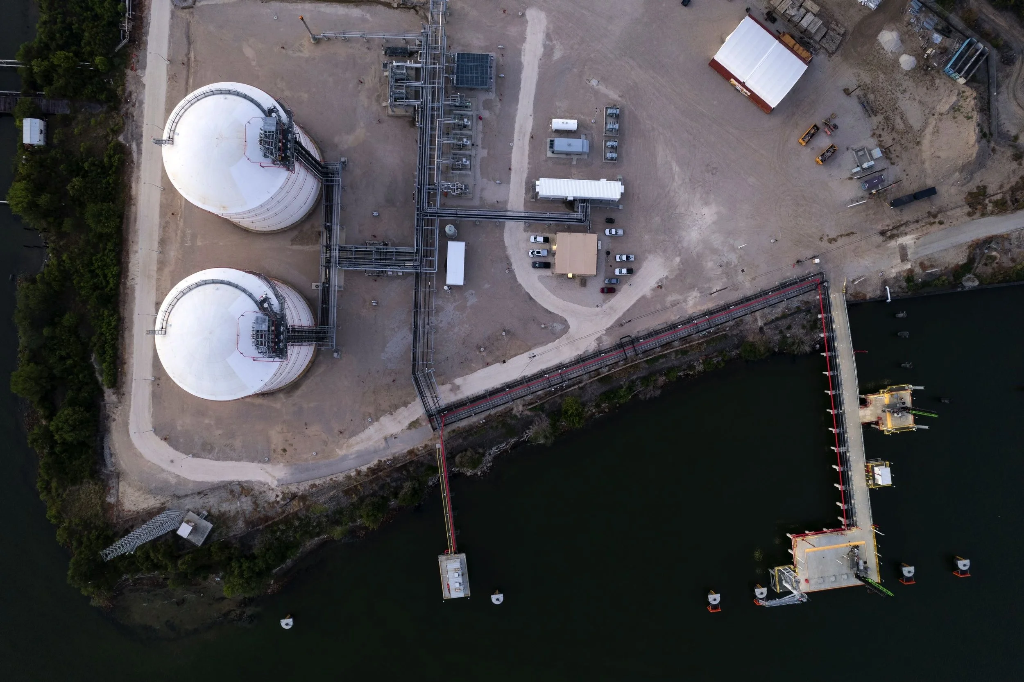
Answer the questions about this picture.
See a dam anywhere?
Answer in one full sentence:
No, the picture doesn't show any dam.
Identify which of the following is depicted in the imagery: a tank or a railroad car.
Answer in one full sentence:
Visible in the photo is a tank.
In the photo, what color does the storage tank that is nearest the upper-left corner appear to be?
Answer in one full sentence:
The color of the storage tank that is nearest the upper-left corner is white.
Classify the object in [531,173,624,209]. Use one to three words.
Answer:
building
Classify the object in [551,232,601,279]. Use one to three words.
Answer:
building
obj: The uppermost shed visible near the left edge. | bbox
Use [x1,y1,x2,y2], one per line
[24,118,50,150]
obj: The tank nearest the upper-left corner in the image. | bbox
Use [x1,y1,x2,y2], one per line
[140,80,324,232]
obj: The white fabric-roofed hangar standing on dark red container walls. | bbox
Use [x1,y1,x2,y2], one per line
[709,12,810,113]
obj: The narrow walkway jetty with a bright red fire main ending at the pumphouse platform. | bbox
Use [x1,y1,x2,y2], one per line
[435,417,459,557]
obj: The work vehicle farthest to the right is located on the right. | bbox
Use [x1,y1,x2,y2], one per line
[821,117,839,135]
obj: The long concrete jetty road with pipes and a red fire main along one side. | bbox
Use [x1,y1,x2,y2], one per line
[813,280,874,529]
